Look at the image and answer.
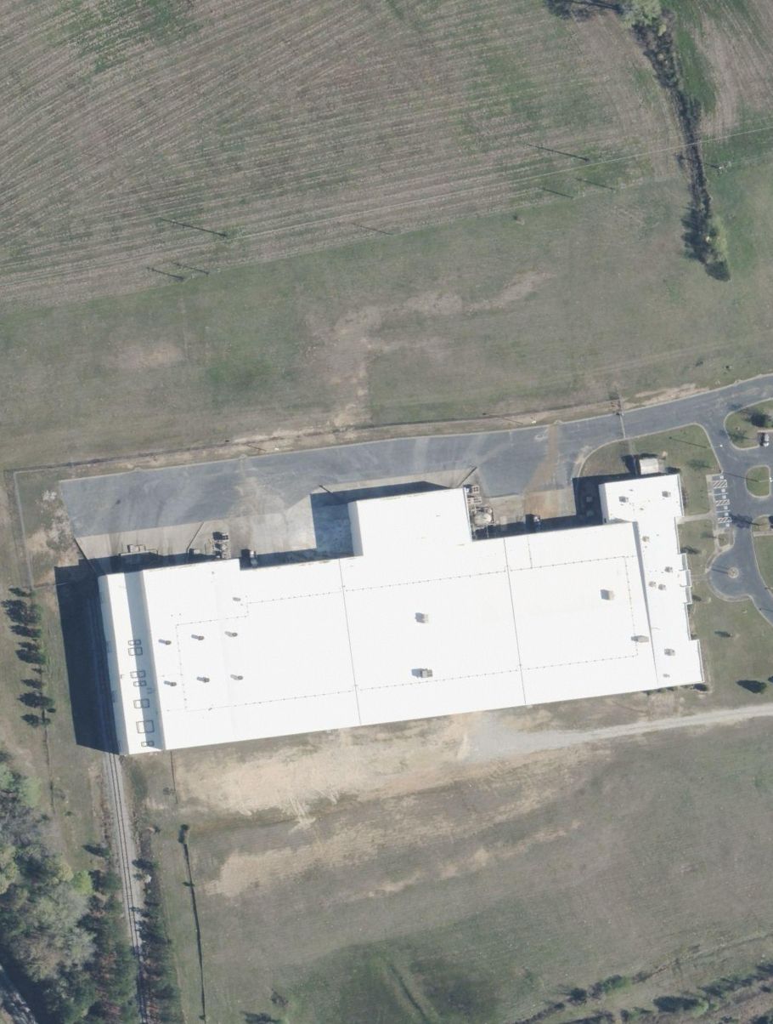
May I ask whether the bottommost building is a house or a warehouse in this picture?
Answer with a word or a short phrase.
warehouse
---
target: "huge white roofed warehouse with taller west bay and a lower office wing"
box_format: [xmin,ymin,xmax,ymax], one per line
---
[98,474,704,755]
